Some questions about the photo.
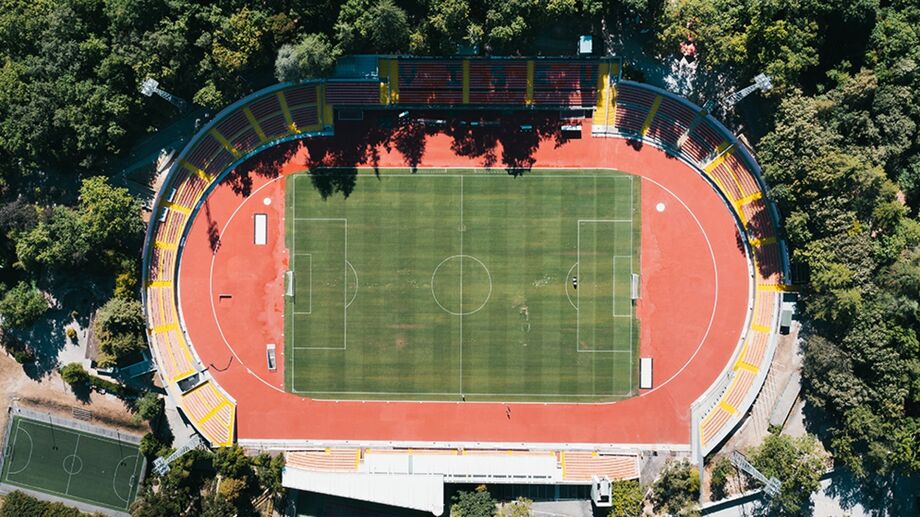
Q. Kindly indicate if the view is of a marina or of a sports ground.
sports ground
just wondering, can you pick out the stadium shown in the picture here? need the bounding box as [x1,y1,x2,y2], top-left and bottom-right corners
[143,57,790,514]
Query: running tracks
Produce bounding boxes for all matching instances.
[179,111,749,444]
